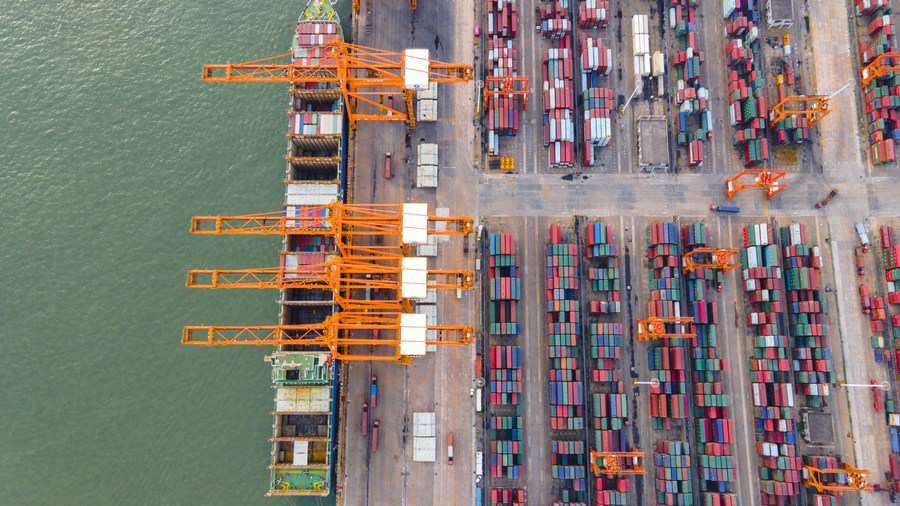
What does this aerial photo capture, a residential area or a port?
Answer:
port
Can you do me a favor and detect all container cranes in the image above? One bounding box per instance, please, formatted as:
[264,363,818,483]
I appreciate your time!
[185,256,474,314]
[483,76,530,115]
[634,317,695,343]
[200,39,473,125]
[586,445,646,474]
[190,199,474,258]
[796,459,873,490]
[846,57,900,97]
[724,170,789,204]
[764,95,830,133]
[677,248,741,278]
[182,311,475,366]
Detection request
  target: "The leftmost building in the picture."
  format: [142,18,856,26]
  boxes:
[635,118,668,172]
